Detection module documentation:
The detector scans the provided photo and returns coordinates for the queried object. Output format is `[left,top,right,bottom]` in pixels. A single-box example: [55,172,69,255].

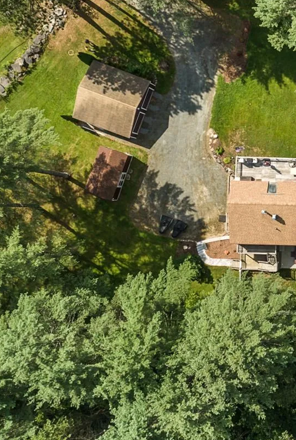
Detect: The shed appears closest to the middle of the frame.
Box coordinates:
[84,145,133,199]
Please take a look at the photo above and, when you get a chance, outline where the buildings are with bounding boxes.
[73,61,155,138]
[226,156,296,274]
[84,145,133,199]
